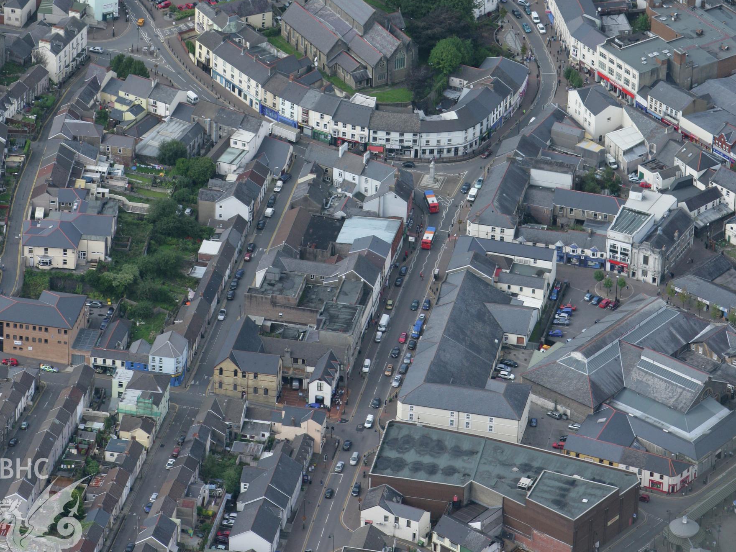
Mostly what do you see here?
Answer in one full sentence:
The bulk of the photo consists of buildings.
